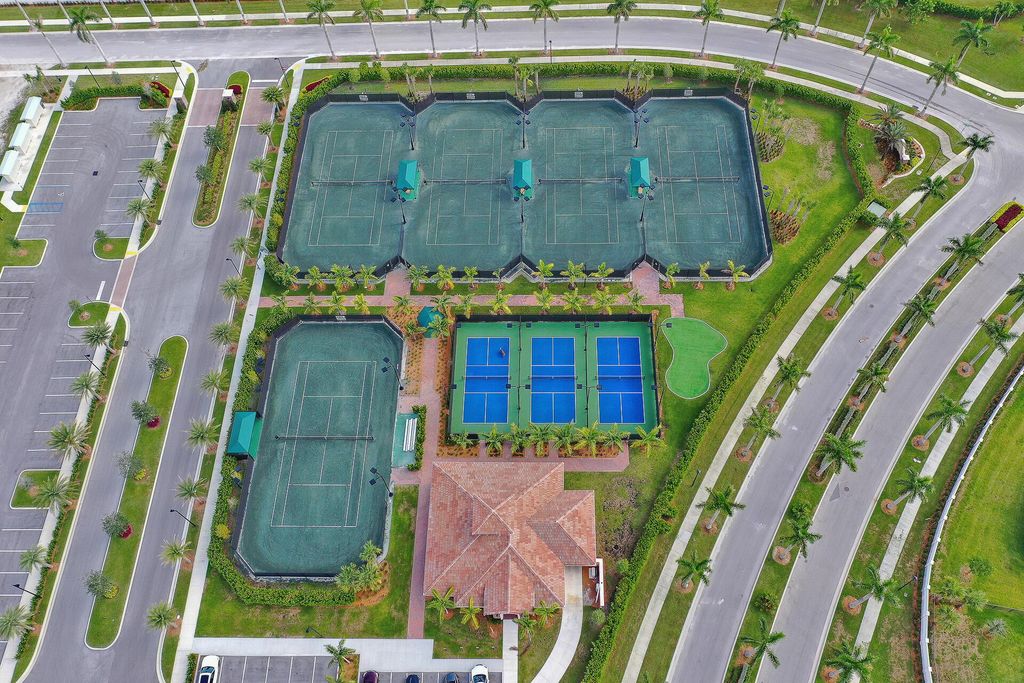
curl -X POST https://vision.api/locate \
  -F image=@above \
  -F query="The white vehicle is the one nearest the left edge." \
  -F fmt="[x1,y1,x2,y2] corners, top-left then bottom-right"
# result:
[197,655,219,683]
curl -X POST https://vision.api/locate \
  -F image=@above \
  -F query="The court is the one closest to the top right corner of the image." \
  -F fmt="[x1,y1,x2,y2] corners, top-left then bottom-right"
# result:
[635,98,767,270]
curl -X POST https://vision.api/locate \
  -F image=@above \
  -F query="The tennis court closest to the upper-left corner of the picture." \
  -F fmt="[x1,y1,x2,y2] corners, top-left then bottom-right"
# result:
[283,104,416,272]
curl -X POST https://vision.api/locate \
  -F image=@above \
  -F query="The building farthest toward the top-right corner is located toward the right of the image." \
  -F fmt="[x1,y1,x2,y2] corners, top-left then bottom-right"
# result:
[630,157,650,198]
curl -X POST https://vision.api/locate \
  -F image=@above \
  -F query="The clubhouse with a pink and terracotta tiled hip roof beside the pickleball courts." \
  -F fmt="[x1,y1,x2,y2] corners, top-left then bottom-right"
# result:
[423,461,596,618]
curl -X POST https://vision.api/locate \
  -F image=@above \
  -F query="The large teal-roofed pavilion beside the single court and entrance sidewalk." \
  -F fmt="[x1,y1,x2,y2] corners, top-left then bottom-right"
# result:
[228,412,256,460]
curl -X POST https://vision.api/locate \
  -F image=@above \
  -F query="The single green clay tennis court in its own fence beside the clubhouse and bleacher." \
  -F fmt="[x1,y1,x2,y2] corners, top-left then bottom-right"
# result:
[239,324,402,576]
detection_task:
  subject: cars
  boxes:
[404,674,421,683]
[197,655,219,683]
[470,665,489,683]
[362,670,379,683]
[444,672,461,683]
